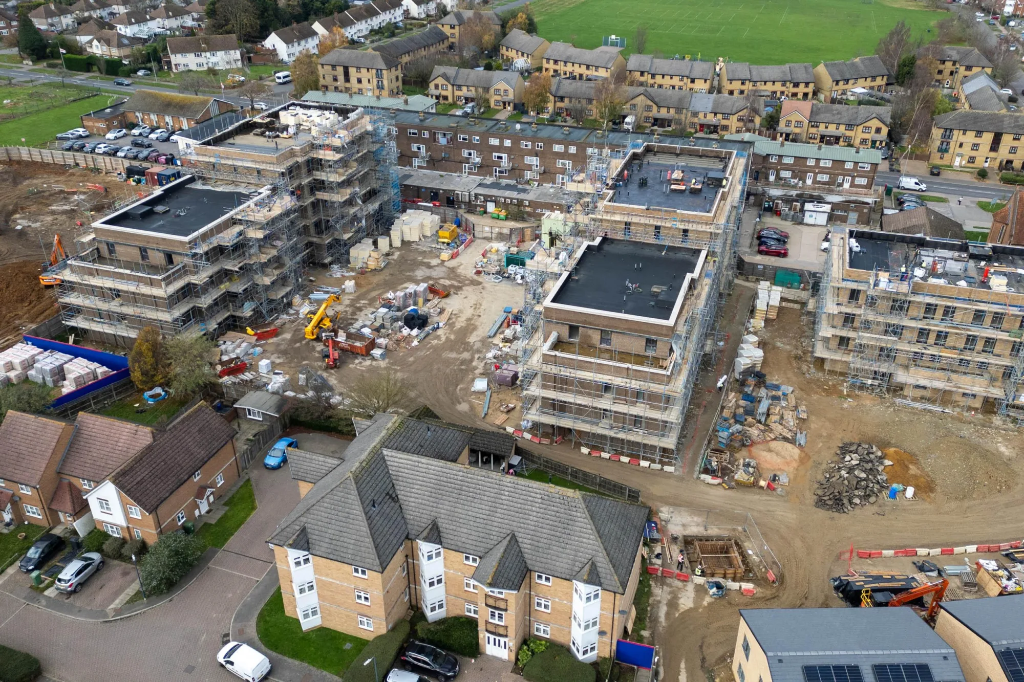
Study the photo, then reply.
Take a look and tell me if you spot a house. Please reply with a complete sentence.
Yes, I can see a house in this picture.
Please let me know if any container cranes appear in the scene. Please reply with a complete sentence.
No, there appears to be no container crane in this shot.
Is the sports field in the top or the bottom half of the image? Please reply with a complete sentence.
The top half of the photo is where the sports field is.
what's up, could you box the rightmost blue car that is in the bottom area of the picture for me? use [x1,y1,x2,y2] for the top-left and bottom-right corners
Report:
[266,437,300,466]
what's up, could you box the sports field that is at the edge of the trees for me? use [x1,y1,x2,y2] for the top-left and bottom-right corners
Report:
[535,0,942,79]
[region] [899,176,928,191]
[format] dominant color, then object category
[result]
white vehicle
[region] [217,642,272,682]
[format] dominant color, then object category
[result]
white van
